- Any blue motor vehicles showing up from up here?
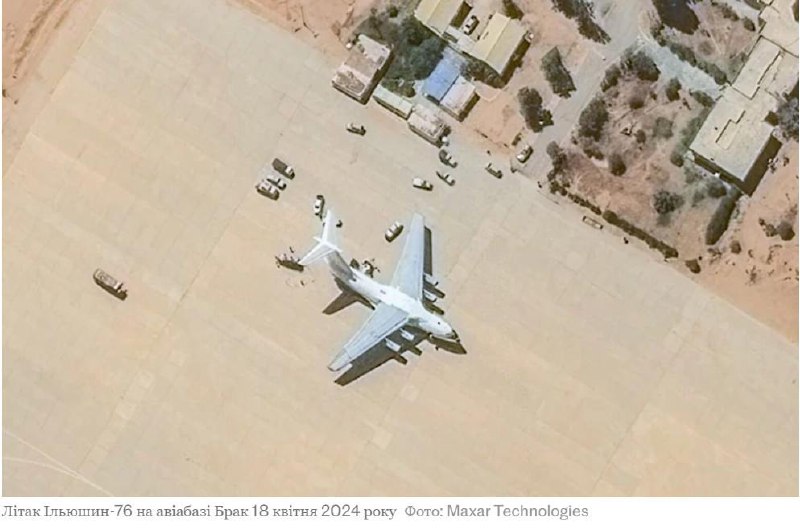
No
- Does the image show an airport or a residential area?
airport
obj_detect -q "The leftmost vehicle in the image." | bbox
[93,267,125,296]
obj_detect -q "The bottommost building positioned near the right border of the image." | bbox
[689,85,777,192]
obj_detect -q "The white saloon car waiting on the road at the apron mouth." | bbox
[516,144,532,163]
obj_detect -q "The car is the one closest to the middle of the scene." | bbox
[384,220,402,240]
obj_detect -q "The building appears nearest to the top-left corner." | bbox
[333,35,391,104]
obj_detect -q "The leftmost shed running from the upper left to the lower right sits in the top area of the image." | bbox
[373,84,412,120]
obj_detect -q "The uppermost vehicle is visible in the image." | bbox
[461,15,476,34]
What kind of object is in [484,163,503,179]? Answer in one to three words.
vehicle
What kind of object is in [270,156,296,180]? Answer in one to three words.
truck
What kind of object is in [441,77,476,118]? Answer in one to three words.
shed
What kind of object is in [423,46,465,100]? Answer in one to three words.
shed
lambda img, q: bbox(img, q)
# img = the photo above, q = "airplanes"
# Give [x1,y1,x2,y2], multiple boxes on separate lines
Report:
[300,209,461,371]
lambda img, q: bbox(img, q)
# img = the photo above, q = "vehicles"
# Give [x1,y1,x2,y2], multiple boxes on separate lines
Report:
[516,144,532,163]
[384,220,402,240]
[274,252,302,270]
[346,121,366,135]
[461,15,476,34]
[484,163,503,179]
[337,220,343,229]
[437,170,455,187]
[437,148,457,167]
[412,176,433,191]
[314,195,323,217]
[256,178,279,199]
[93,267,125,296]
[266,174,285,190]
[270,156,296,180]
